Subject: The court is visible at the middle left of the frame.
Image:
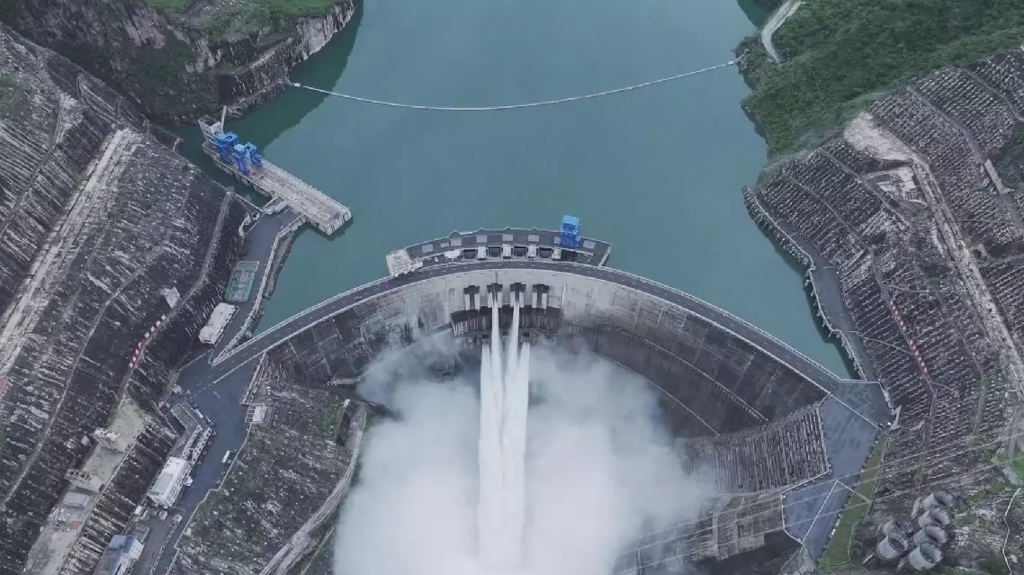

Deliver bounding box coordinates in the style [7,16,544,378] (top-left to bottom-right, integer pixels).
[225,261,258,301]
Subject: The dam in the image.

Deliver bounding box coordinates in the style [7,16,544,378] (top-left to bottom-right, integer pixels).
[182,227,848,483]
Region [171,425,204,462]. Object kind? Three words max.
building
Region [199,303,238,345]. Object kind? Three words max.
building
